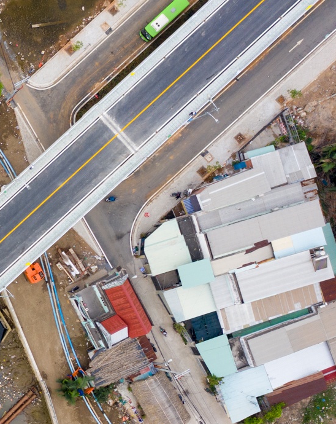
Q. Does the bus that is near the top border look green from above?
Yes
